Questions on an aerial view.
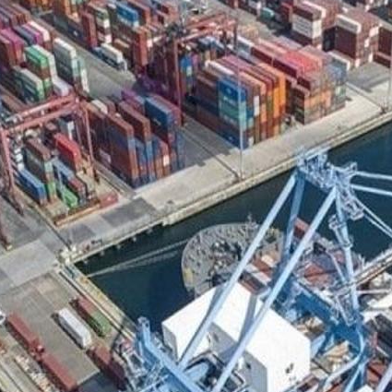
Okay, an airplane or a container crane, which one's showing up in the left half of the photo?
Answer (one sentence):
The feature located in the left half of the photo is a container crane.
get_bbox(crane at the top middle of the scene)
[152,5,239,128]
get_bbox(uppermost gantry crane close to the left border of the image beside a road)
[3,91,98,221]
